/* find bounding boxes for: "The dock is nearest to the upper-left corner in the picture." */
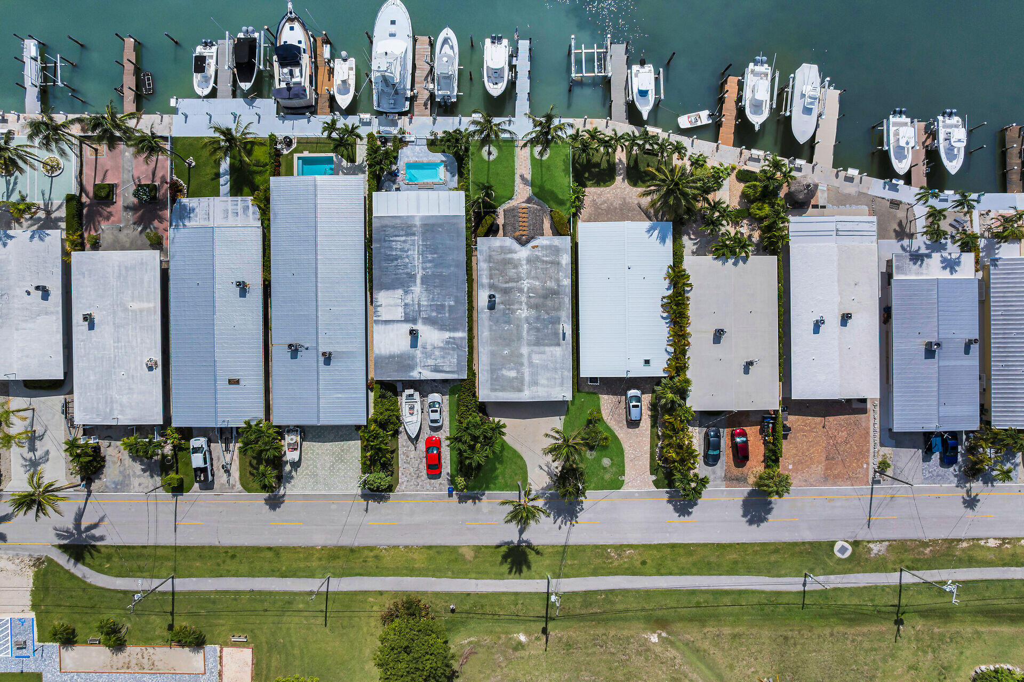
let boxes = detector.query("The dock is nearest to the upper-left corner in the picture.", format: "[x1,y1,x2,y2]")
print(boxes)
[24,39,47,114]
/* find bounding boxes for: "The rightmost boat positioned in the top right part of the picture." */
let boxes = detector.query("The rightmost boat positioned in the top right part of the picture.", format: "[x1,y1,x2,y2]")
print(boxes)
[936,109,992,175]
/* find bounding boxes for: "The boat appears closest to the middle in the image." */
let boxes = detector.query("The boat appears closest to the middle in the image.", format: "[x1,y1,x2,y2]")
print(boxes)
[403,383,421,437]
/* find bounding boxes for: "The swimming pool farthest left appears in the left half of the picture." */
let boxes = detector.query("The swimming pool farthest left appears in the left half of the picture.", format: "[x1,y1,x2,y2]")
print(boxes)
[294,153,337,176]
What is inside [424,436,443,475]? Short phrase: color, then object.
red car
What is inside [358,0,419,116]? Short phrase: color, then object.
white boat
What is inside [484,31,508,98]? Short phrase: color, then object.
white boat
